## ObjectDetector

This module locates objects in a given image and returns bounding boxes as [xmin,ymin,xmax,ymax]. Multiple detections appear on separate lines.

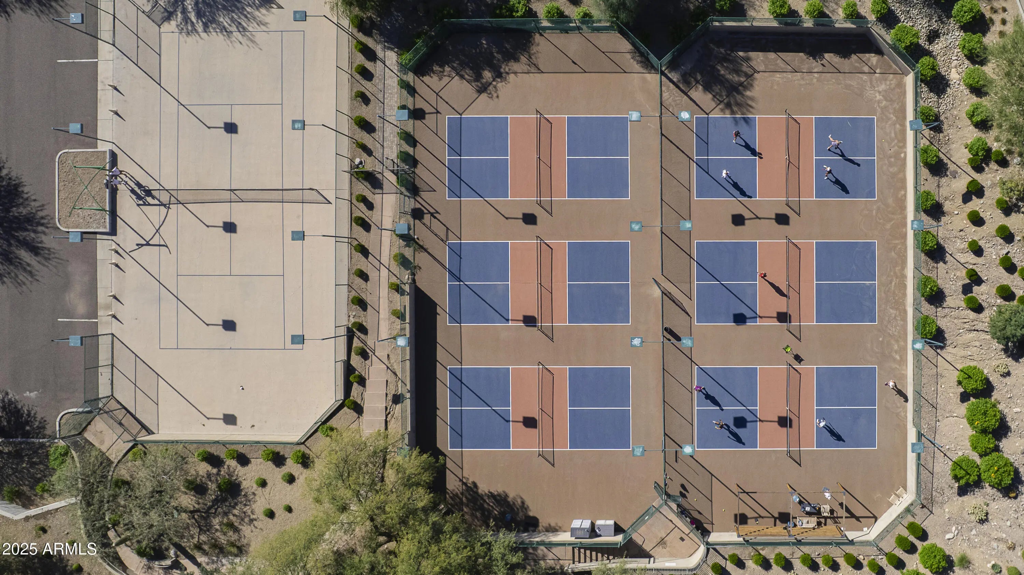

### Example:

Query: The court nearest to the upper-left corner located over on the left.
[159,31,304,350]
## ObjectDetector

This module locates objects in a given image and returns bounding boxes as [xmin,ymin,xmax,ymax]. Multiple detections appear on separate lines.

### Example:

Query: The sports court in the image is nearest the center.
[447,241,630,325]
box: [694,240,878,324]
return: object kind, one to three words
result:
sports court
